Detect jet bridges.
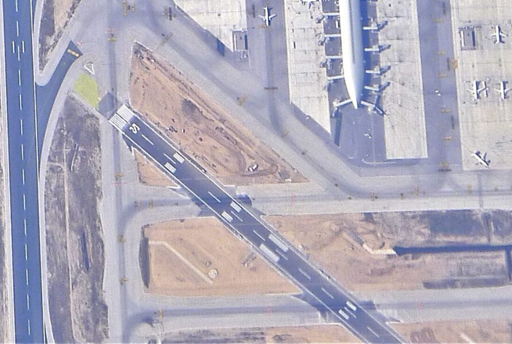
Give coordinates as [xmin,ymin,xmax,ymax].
[363,45,387,52]
[363,82,388,91]
[334,99,352,115]
[363,100,385,115]
[364,65,389,73]
[319,35,342,44]
[321,55,343,63]
[325,76,346,86]
[317,12,340,21]
[361,21,385,29]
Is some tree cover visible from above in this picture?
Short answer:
No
